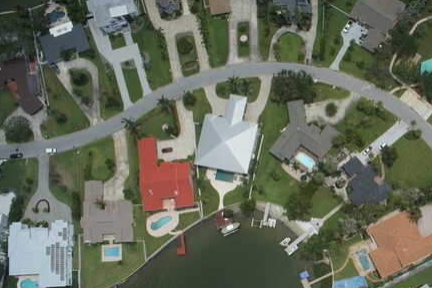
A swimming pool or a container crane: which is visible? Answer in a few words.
swimming pool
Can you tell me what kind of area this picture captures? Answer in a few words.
residential area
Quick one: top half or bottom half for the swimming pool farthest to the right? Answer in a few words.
bottom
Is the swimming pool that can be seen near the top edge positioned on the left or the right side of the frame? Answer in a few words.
left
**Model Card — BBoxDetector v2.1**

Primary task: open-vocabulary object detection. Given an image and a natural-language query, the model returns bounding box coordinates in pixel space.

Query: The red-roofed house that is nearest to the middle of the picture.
[137,137,194,211]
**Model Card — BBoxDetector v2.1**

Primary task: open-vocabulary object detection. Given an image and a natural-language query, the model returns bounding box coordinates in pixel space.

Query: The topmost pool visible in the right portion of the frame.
[289,147,317,181]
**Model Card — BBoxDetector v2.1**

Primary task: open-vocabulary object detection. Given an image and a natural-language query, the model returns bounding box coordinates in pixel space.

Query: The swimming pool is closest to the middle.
[206,169,240,197]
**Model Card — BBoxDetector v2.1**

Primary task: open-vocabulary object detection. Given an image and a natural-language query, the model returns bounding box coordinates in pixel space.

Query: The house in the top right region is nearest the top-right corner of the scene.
[351,0,406,52]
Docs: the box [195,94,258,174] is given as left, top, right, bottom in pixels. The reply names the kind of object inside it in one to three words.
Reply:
house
